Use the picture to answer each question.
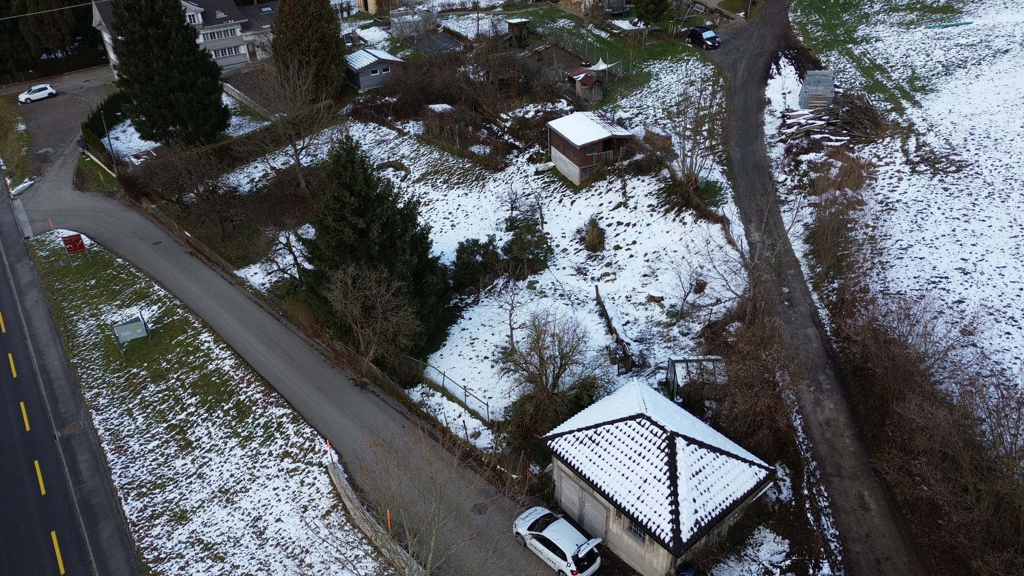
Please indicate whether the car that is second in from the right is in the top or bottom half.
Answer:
bottom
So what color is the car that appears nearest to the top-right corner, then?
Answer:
black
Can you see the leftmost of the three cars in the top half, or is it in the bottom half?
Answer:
top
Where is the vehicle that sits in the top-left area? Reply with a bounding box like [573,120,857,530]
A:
[15,80,58,103]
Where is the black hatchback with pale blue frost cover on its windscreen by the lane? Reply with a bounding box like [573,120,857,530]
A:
[686,28,720,48]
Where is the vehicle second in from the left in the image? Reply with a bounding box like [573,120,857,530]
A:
[513,506,609,576]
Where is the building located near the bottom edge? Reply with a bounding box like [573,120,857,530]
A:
[537,382,779,576]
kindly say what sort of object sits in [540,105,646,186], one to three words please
shed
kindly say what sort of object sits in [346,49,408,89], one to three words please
shed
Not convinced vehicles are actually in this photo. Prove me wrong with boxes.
[686,28,720,48]
[15,80,58,103]
[513,506,609,576]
